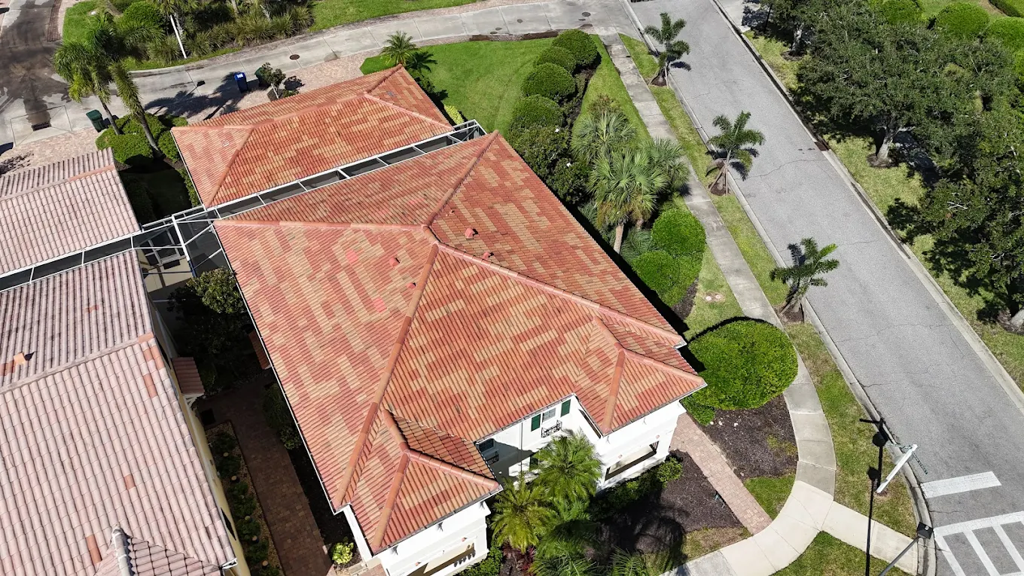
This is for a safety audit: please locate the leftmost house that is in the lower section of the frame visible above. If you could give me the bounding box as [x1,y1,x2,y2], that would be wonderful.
[0,247,251,576]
